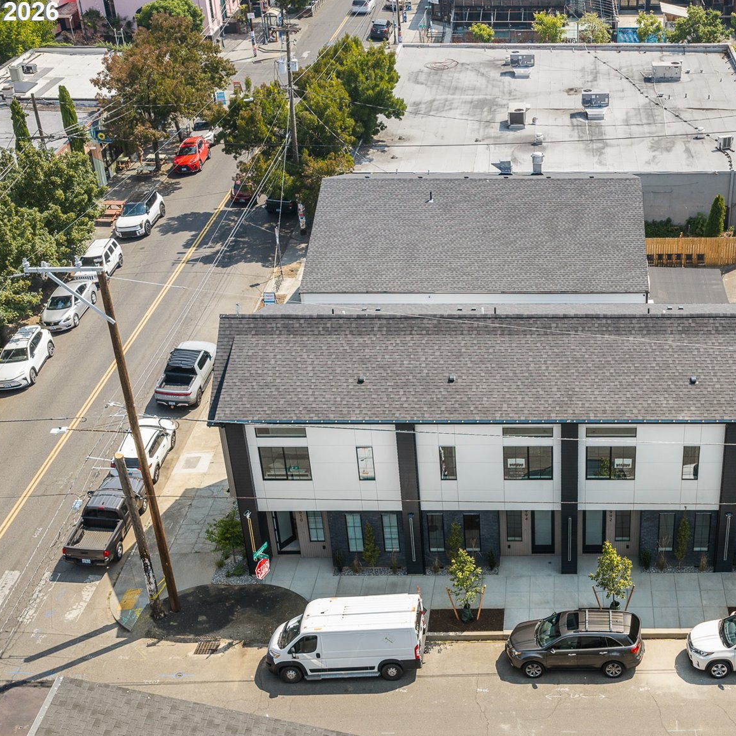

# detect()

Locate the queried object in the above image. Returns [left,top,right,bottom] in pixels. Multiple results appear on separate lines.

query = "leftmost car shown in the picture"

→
[0,329,58,389]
